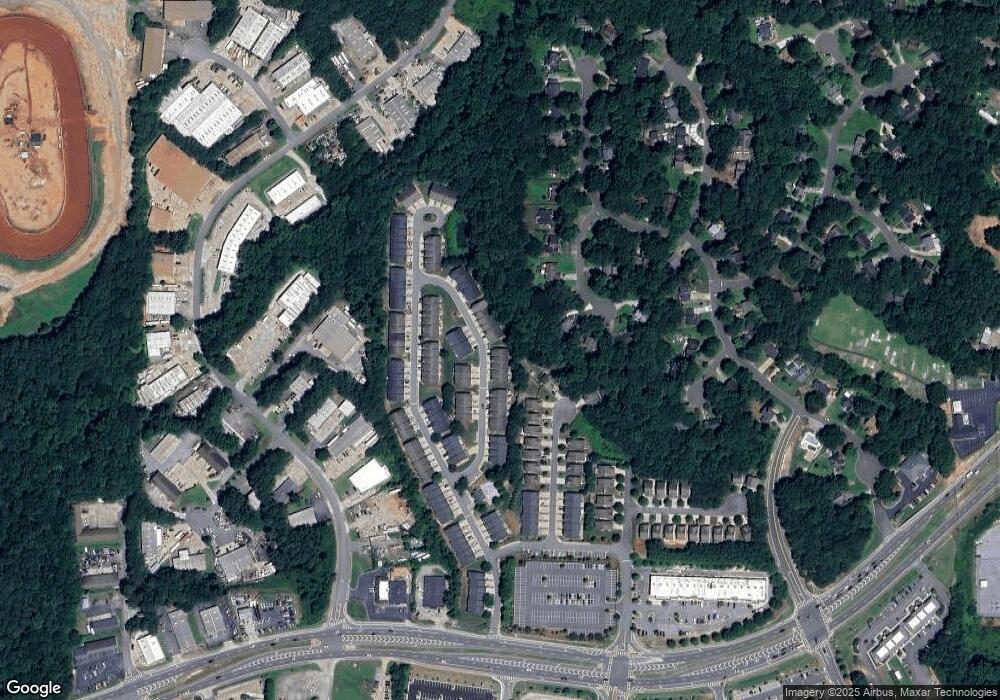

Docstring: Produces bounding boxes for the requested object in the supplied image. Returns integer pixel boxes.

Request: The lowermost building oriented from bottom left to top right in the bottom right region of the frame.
[862,597,947,681]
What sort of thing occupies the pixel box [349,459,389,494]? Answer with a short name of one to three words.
building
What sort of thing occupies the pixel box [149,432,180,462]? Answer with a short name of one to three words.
building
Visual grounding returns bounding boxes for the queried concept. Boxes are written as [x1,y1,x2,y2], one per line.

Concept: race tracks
[0,14,89,261]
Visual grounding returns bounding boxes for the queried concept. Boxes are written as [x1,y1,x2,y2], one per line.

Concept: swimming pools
[481,482,500,505]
